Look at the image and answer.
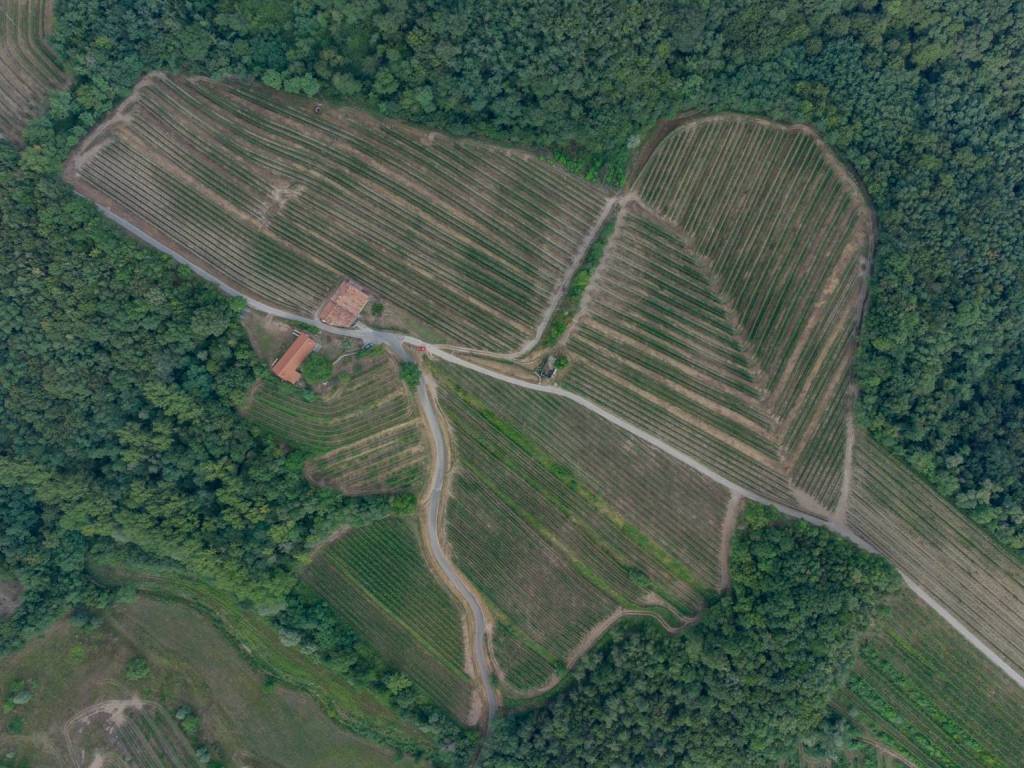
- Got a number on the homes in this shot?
two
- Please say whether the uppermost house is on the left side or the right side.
left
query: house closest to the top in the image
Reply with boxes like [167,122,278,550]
[324,278,368,329]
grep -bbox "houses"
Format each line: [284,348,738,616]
[324,278,368,329]
[273,332,317,386]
